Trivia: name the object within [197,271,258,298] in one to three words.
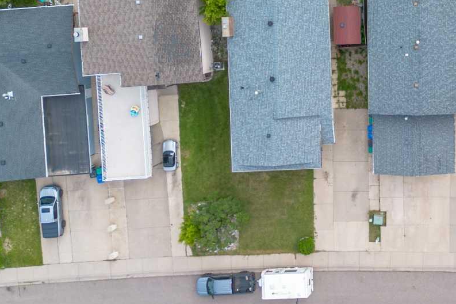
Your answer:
truck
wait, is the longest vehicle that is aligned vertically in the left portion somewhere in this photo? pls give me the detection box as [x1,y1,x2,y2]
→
[36,183,64,242]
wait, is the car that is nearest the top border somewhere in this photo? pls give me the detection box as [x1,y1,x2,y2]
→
[159,140,180,170]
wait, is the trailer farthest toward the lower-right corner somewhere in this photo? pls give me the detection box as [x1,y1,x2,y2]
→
[258,268,313,301]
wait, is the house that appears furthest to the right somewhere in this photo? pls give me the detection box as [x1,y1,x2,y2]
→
[366,0,456,176]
